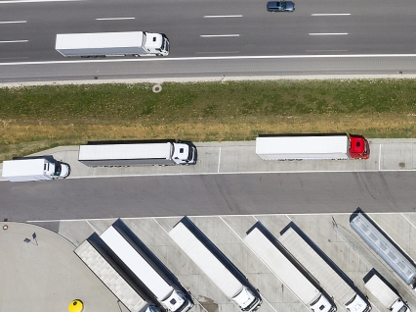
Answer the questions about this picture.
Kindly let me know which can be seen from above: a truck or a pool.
truck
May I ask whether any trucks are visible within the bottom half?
Yes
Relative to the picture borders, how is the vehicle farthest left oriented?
from left to right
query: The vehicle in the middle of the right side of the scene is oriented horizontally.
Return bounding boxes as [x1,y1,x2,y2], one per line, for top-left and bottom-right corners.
[256,136,370,160]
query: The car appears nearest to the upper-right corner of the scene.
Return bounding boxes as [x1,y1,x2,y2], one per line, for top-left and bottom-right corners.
[266,0,297,14]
